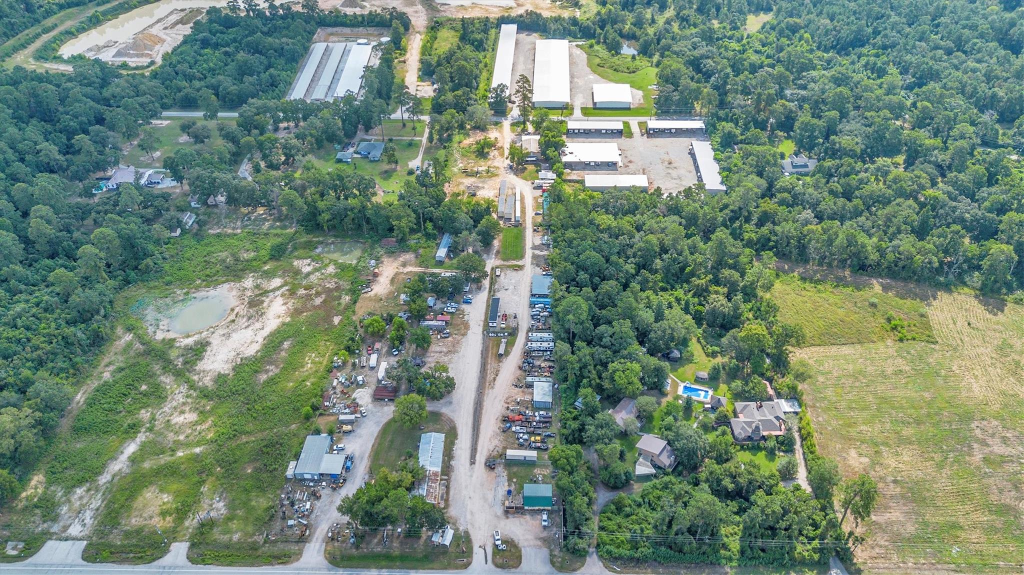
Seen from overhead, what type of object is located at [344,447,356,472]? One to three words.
vehicle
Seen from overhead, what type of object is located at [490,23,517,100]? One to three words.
building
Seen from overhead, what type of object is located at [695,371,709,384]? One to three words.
gazebo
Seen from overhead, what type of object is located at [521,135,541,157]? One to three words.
barn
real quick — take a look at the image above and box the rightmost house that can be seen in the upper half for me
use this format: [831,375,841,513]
[779,156,820,177]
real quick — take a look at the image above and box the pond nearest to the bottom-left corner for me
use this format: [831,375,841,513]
[166,287,237,334]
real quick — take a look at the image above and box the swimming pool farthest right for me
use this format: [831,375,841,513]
[681,385,711,400]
